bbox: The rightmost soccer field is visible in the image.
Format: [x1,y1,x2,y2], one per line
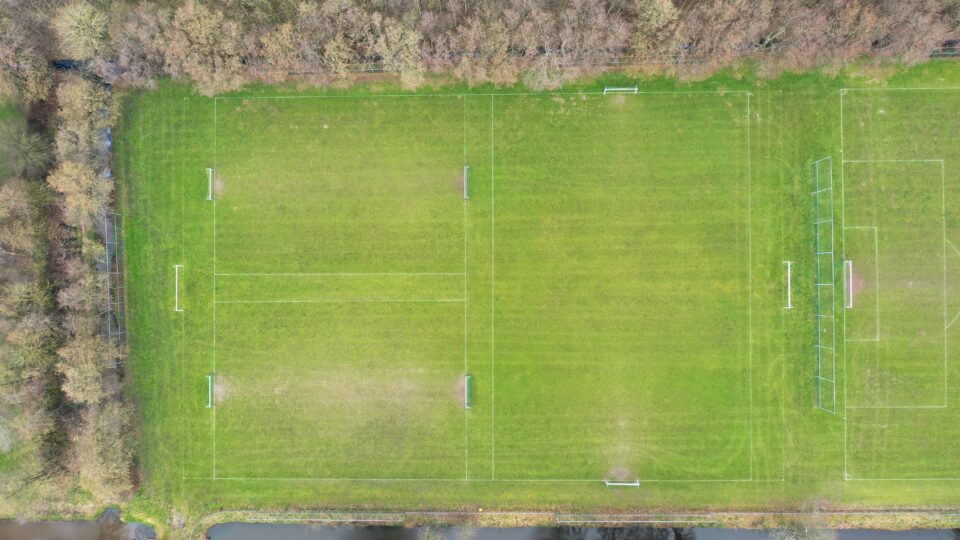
[840,87,960,481]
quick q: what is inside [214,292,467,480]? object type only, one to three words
soccer field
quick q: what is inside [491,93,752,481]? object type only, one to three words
soccer field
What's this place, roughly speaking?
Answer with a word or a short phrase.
sports ground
